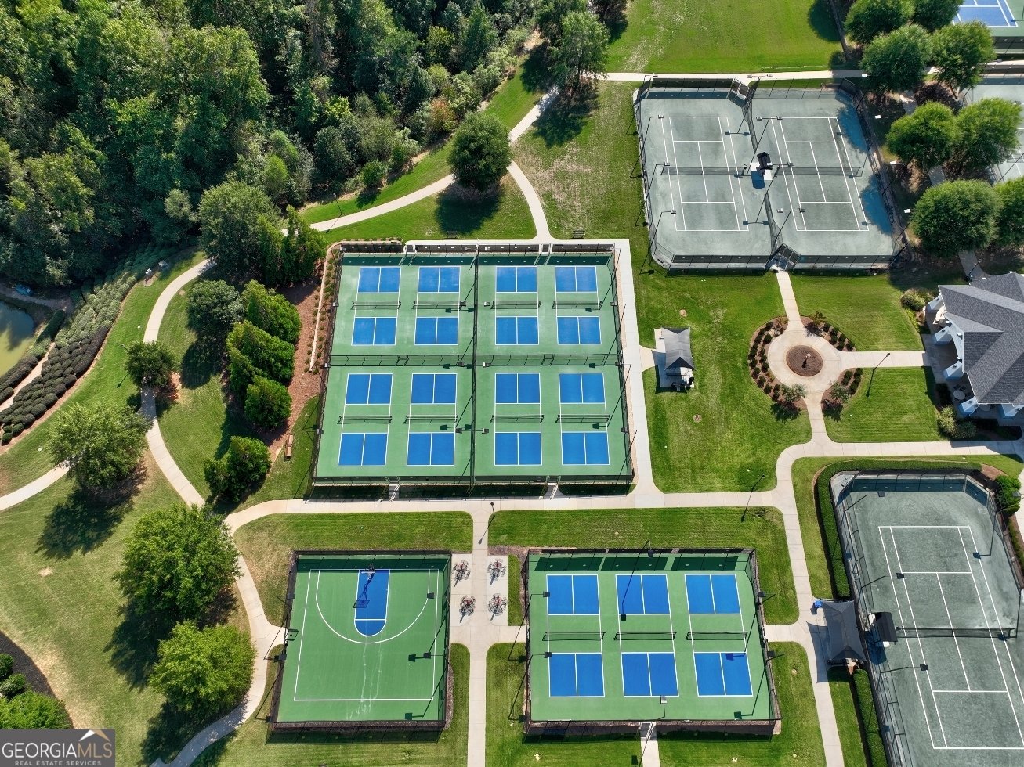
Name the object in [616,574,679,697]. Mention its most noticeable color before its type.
blue sports court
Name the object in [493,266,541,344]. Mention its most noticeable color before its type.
blue sports court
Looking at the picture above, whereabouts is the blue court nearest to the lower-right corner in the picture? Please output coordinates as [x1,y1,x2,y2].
[685,574,753,696]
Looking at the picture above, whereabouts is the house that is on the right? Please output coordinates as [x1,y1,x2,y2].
[928,272,1024,413]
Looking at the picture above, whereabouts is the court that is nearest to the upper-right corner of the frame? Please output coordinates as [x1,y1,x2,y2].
[951,0,1021,28]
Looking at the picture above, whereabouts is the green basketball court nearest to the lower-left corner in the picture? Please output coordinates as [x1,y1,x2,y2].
[281,556,452,722]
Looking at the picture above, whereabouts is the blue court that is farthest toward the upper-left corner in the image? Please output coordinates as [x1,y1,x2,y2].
[351,266,401,345]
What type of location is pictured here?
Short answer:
sports ground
